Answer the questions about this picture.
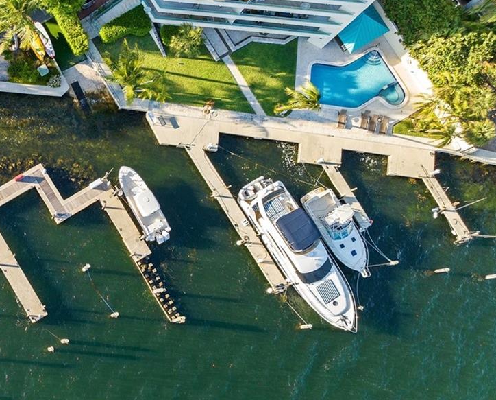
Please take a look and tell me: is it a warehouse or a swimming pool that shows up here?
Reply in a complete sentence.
The image shows a swimming pool.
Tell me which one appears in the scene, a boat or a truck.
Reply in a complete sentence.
Looking from above, you can make out a boat.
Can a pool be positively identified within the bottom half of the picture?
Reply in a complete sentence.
No, looking within the bottom half of the picture, there is no pool.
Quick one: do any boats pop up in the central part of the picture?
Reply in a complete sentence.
Yes, in the central part of the picture there is a boat.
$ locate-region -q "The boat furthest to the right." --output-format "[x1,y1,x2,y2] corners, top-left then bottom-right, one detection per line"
[298,187,374,284]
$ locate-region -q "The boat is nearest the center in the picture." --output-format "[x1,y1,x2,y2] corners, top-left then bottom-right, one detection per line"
[232,172,271,201]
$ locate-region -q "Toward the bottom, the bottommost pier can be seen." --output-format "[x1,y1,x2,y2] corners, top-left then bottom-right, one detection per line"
[130,257,184,325]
